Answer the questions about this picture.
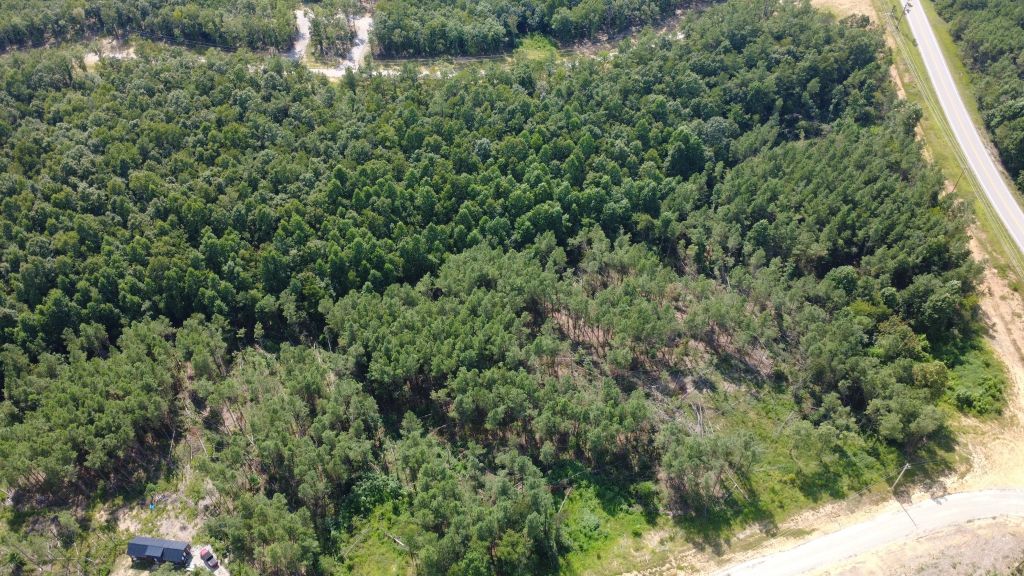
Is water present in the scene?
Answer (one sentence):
No, no water is visible.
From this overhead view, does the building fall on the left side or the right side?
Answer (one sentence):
It is on the left.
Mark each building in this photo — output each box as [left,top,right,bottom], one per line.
[125,536,196,569]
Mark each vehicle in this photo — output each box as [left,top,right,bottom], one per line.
[199,547,218,567]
